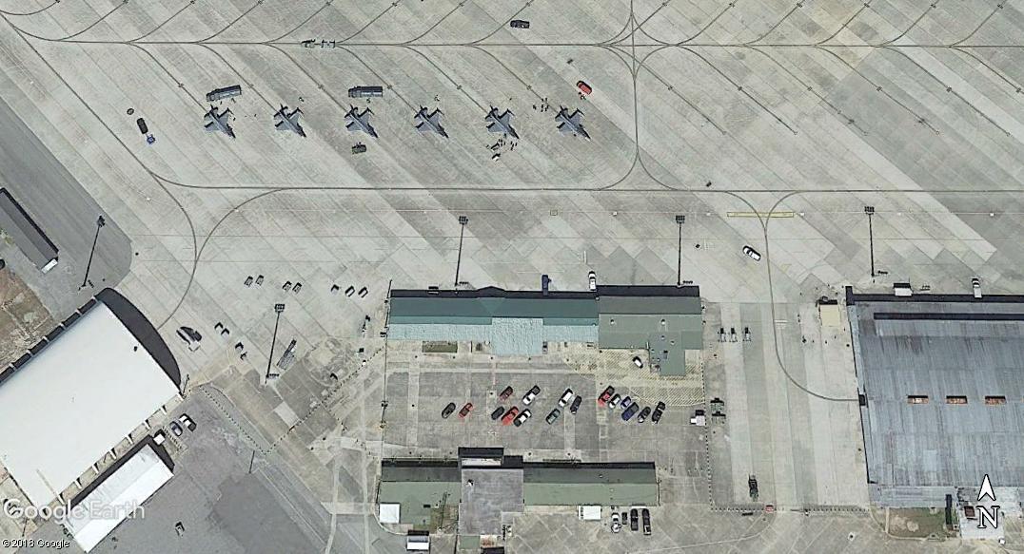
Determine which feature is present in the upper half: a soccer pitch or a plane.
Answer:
plane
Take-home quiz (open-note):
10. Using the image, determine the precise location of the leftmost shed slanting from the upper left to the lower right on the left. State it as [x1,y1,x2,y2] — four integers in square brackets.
[0,192,55,269]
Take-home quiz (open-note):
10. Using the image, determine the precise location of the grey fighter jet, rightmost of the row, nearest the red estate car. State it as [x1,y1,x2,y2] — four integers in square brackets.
[557,108,590,140]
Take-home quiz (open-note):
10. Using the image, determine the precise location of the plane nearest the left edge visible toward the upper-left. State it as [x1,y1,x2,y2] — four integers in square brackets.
[204,107,235,138]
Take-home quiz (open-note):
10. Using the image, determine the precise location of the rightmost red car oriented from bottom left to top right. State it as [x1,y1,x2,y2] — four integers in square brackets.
[597,386,615,406]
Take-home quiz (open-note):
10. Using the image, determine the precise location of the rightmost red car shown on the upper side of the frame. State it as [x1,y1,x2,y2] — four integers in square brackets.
[577,80,593,95]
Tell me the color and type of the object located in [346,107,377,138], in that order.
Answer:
gray airplane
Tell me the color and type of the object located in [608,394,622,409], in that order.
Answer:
white car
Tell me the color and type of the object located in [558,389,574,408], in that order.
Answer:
white car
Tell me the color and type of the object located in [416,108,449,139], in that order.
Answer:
gray airplane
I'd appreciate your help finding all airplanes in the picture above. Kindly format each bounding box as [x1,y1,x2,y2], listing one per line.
[416,108,449,139]
[275,107,307,139]
[557,108,590,140]
[487,108,519,139]
[346,107,377,138]
[204,107,235,138]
